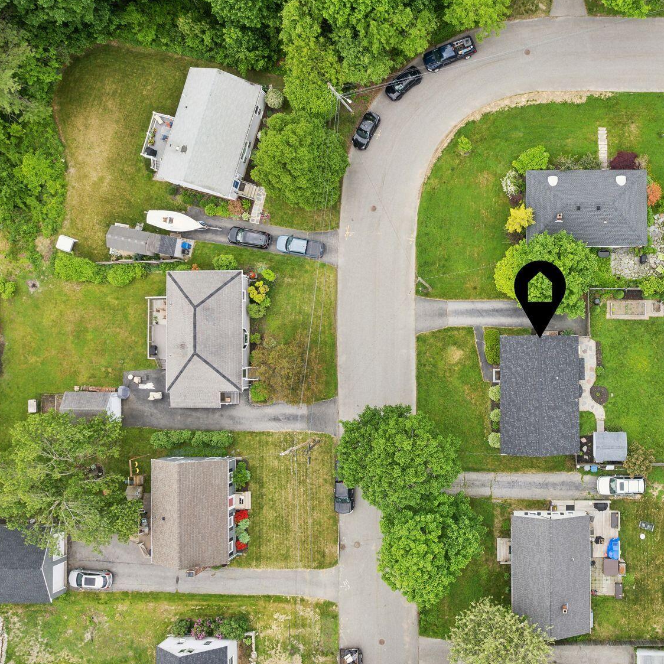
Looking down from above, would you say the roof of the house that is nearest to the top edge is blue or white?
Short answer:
white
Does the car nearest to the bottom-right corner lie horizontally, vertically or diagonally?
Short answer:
horizontally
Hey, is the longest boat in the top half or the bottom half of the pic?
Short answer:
top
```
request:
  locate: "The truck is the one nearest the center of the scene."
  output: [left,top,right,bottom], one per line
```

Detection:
[275,233,326,259]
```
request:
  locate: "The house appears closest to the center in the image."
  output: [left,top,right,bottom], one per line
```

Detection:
[165,269,261,408]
